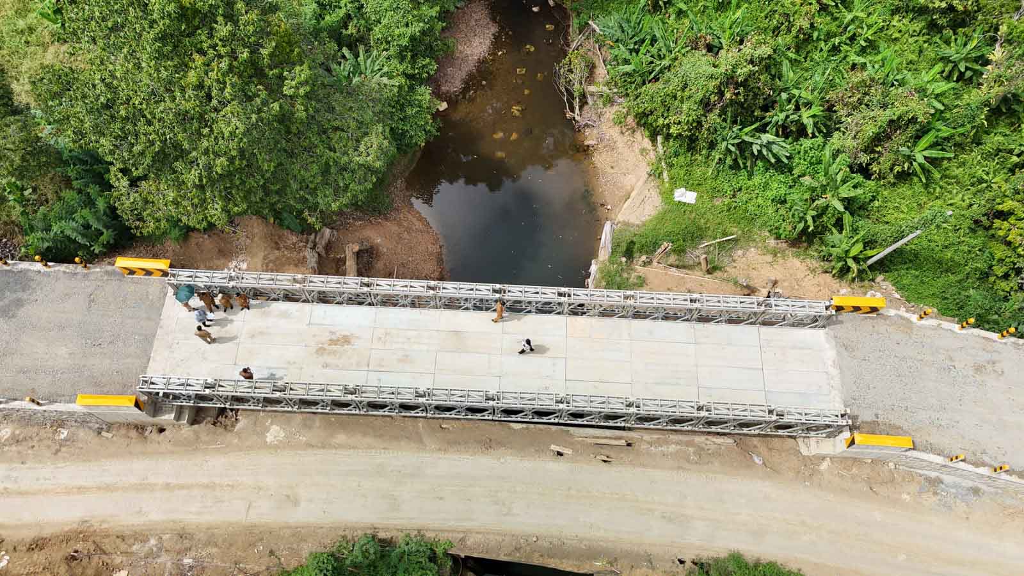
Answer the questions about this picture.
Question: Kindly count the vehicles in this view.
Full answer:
No vehicles are visible.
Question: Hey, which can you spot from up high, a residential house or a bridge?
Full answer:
Visible in the photo is a bridge.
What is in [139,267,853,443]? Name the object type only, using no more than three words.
bridge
